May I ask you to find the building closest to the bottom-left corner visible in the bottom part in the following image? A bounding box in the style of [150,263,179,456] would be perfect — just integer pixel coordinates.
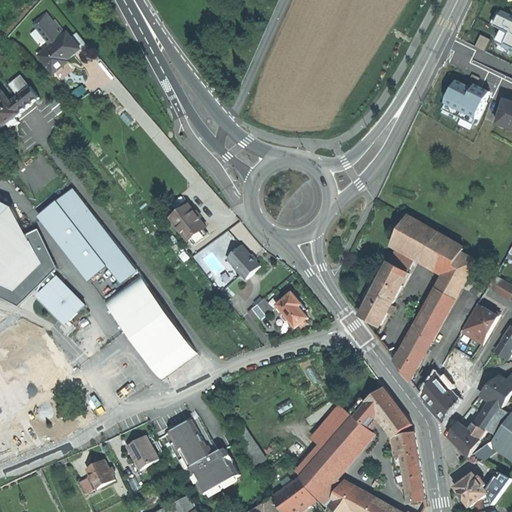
[80,459,118,496]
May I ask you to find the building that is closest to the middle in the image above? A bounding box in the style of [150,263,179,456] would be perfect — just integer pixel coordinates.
[228,242,260,280]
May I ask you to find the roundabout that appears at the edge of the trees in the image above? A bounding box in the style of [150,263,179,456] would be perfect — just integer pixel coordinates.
[209,119,394,266]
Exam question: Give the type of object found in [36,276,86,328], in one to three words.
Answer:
building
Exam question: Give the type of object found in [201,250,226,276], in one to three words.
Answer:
swimming pool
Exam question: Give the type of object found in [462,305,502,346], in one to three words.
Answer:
house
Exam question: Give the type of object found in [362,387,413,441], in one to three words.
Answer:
barn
